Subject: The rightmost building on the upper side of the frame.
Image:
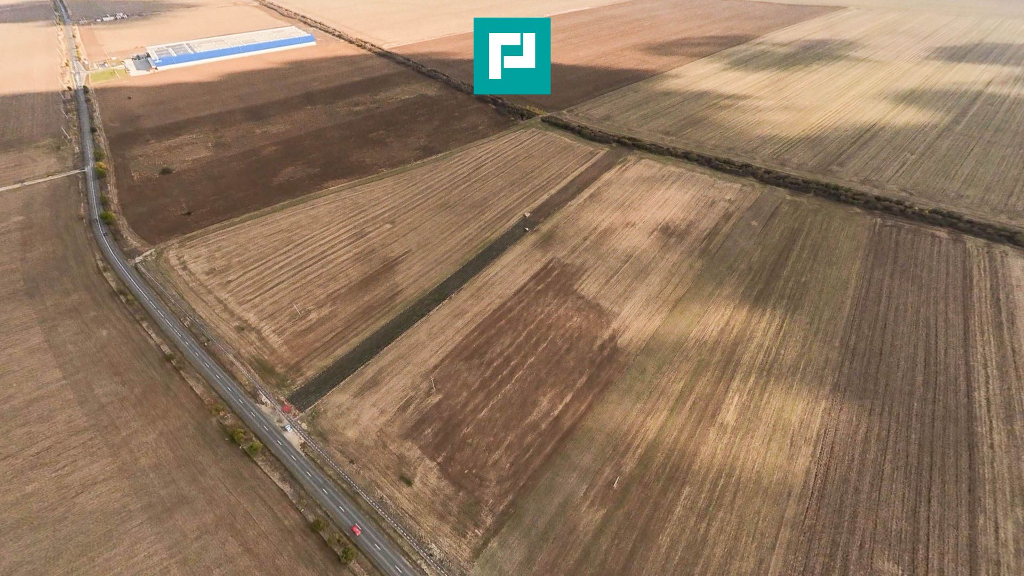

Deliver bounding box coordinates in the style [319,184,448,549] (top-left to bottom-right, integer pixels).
[149,25,315,70]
